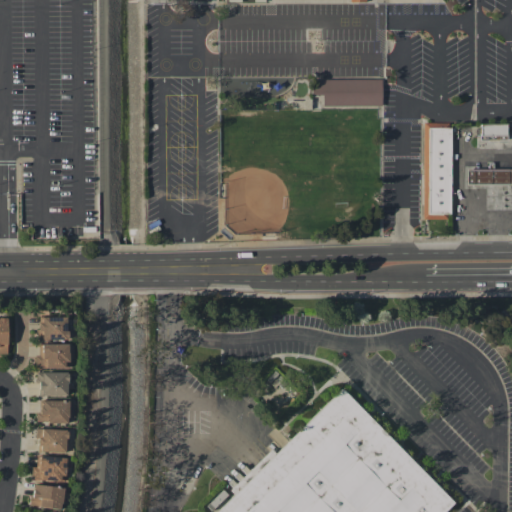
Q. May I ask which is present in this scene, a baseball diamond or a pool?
baseball diamond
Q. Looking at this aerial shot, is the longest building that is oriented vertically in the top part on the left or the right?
right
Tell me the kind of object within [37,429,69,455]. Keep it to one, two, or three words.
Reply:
house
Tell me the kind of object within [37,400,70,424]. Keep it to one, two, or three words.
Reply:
house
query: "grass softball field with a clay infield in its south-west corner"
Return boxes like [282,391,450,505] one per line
[222,109,382,238]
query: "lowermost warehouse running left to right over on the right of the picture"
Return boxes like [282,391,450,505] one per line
[215,394,458,512]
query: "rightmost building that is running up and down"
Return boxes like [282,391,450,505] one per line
[425,122,454,220]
